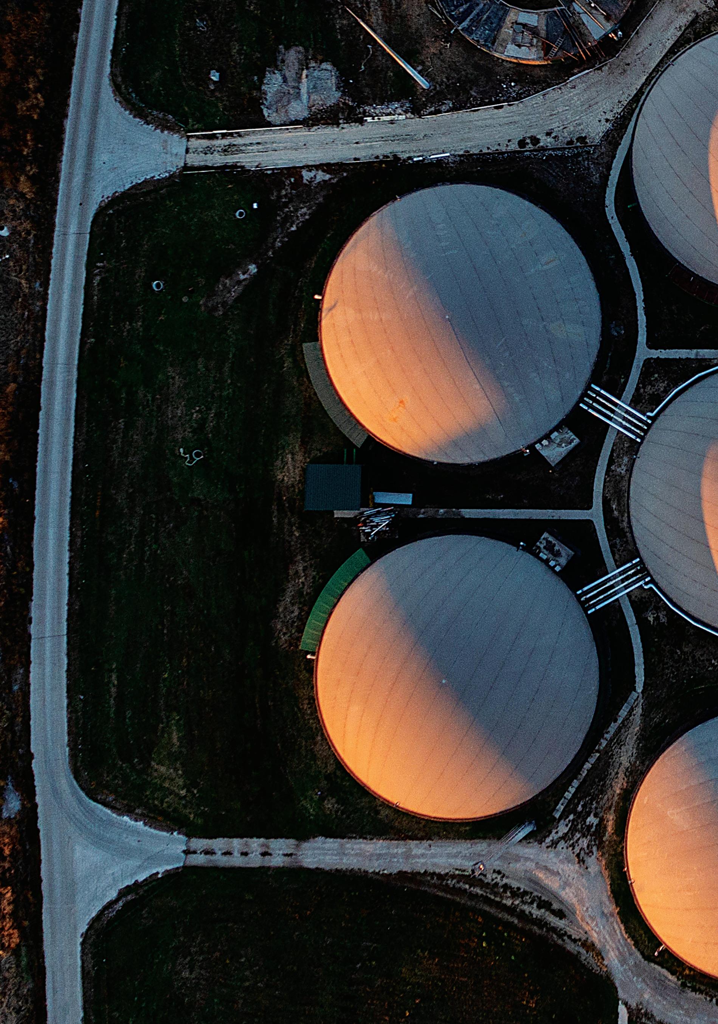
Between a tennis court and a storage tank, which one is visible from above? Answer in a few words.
storage tank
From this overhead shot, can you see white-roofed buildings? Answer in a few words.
No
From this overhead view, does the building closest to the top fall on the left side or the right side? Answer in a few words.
right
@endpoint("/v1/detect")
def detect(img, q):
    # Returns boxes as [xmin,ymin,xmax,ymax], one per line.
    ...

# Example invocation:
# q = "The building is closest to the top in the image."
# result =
[538,426,586,466]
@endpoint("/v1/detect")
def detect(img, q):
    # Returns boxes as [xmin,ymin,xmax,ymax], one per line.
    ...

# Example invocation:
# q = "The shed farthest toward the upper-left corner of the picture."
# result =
[304,465,371,510]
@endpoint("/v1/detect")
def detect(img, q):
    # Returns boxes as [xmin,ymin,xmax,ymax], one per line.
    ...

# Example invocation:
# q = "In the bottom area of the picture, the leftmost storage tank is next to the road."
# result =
[300,532,611,821]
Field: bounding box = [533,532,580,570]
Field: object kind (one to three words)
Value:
building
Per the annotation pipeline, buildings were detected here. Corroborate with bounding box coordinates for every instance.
[533,532,580,570]
[538,426,586,466]
[304,465,371,510]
